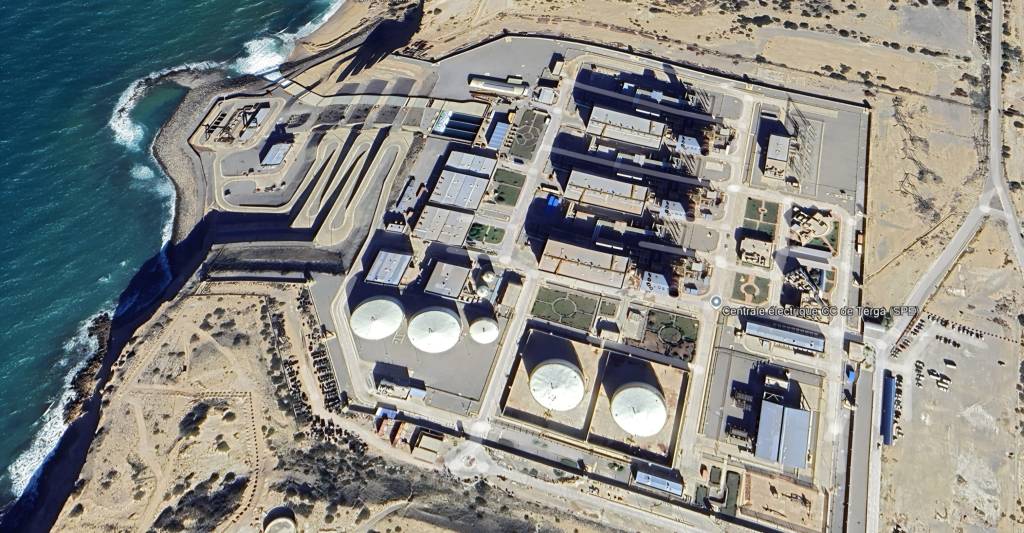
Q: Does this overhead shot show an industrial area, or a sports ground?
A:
industrial area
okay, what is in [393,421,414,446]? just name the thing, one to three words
shed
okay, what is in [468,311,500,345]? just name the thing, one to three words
storage tank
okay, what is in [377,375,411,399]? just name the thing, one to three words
shed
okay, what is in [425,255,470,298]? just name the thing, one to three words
building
